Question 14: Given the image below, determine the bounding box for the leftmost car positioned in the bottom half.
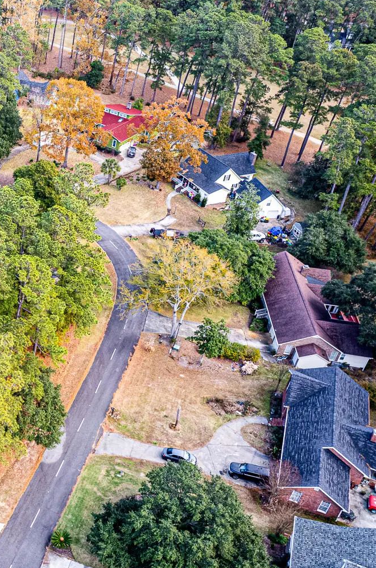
[160,445,200,469]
